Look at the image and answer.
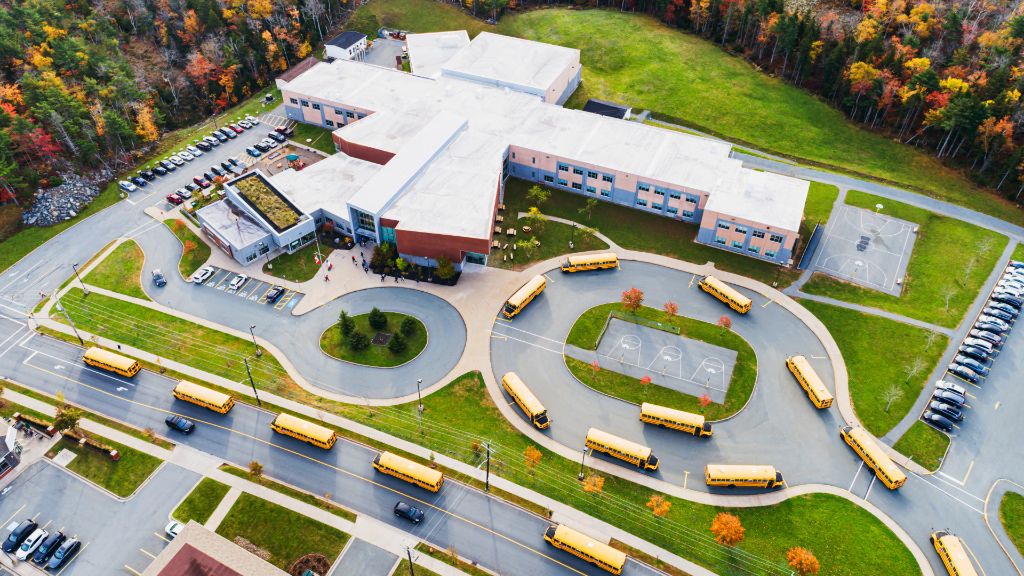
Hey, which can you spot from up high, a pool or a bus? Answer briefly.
bus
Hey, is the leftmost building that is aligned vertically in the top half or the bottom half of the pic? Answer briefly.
bottom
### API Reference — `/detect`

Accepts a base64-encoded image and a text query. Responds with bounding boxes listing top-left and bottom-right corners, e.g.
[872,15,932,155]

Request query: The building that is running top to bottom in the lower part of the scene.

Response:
[0,421,28,487]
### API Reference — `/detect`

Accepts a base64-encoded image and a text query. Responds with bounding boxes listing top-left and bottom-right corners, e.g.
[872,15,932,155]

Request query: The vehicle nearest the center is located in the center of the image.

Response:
[502,276,547,320]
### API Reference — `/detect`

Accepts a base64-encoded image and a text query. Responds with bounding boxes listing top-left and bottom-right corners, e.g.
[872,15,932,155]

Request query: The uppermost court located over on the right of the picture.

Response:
[807,204,920,296]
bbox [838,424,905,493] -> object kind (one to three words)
bus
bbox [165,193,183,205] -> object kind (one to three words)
vehicle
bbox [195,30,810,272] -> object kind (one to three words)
building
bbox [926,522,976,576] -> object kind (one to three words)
bus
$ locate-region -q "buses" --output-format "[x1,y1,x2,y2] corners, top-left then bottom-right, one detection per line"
[368,452,445,495]
[703,467,788,490]
[168,381,236,417]
[638,405,716,440]
[559,254,618,276]
[502,276,547,320]
[267,413,338,453]
[695,278,752,319]
[926,522,976,576]
[785,354,833,412]
[838,424,905,493]
[584,429,662,475]
[541,523,627,576]
[502,374,552,434]
[78,348,143,381]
